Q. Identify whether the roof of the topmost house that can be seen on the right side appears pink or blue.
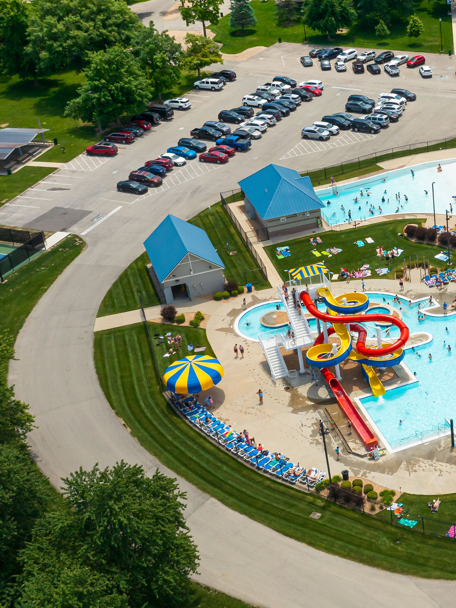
blue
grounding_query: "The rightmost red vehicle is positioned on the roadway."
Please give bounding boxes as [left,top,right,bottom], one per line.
[405,54,427,68]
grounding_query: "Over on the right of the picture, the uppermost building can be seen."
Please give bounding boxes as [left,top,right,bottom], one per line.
[239,163,325,238]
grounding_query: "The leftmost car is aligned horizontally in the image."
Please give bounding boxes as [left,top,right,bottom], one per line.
[85,143,118,157]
